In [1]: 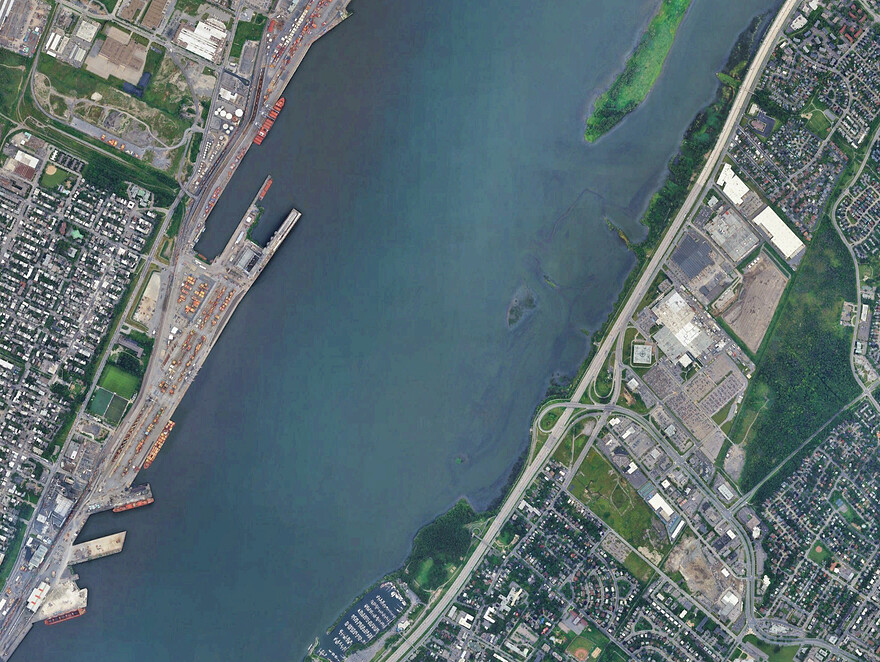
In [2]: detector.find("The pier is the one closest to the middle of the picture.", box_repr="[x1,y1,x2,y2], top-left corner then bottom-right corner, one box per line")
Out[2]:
[262,209,302,249]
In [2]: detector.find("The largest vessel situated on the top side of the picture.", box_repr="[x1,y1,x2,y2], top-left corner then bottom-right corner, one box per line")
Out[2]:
[254,97,285,144]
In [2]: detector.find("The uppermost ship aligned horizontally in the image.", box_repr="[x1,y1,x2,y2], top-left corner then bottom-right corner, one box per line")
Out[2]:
[113,499,154,512]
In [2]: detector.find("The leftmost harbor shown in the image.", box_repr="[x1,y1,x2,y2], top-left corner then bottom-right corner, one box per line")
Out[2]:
[0,0,351,662]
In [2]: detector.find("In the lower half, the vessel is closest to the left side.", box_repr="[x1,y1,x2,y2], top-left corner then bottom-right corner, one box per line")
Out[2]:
[45,608,88,624]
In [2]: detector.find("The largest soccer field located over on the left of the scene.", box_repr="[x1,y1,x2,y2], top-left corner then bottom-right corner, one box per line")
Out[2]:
[98,362,142,401]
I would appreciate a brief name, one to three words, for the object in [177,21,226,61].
building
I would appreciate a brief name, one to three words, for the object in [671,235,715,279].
building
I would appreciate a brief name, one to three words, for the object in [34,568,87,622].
pier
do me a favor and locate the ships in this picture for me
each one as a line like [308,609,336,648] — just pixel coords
[45,608,88,624]
[259,179,272,200]
[254,97,285,144]
[145,420,175,469]
[113,499,154,512]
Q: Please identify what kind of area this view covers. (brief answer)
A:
port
